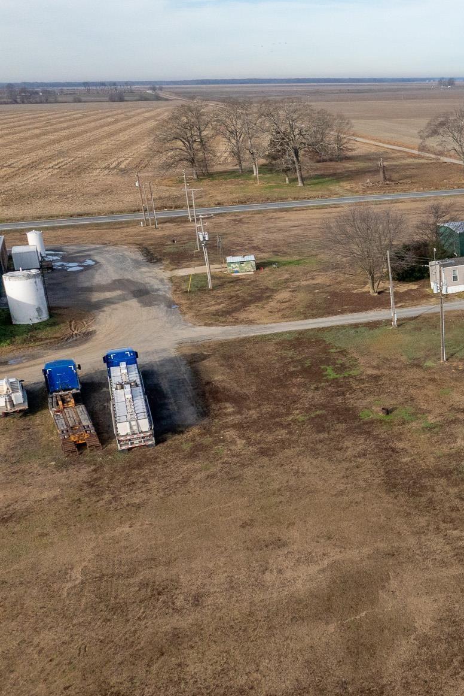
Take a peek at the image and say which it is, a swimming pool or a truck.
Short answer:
truck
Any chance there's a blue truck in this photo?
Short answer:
Yes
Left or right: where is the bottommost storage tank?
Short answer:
left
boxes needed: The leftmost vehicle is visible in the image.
[0,375,32,419]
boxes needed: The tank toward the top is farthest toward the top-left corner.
[26,229,56,262]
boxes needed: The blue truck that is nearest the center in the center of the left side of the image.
[103,351,144,385]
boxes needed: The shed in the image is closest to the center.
[224,252,258,274]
